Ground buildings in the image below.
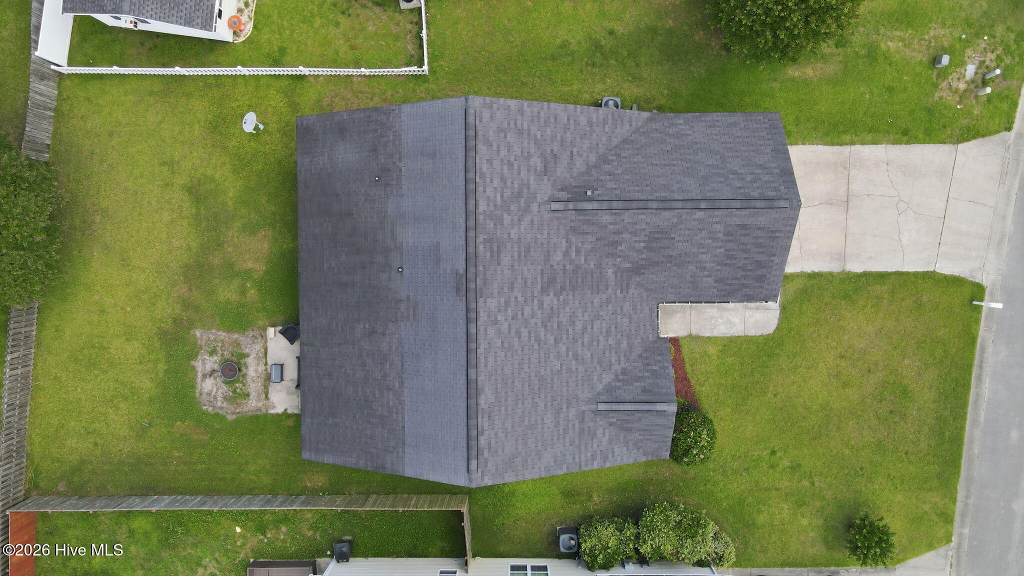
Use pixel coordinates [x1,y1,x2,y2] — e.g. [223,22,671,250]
[63,0,237,42]
[310,549,715,576]
[295,95,801,488]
